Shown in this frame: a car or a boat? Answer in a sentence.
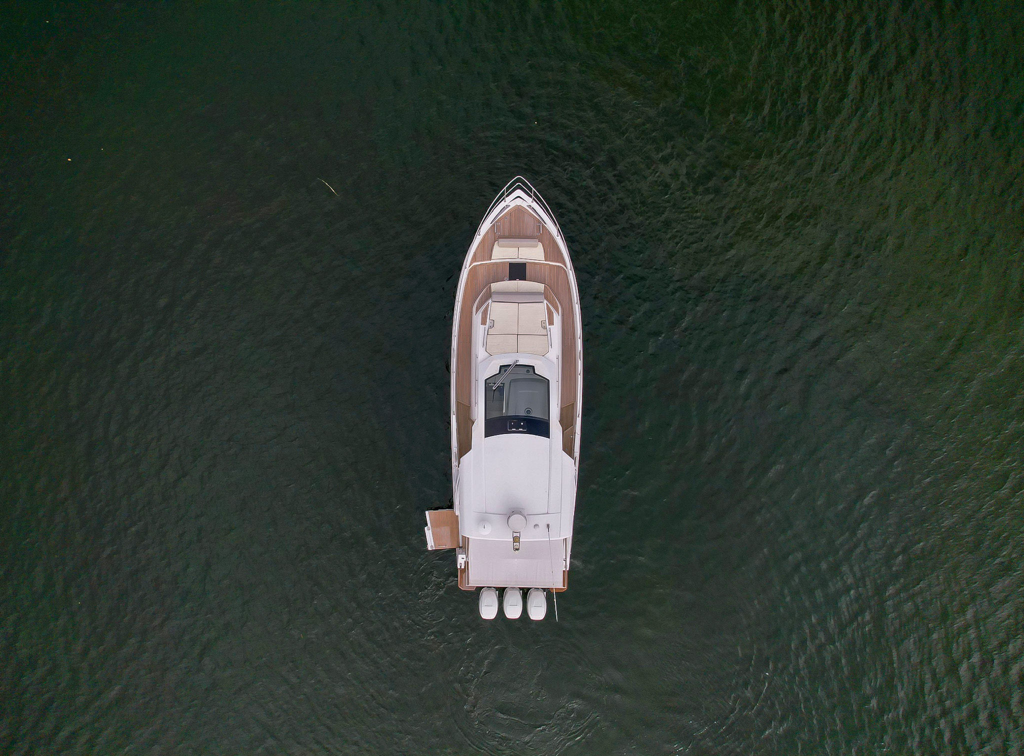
It is a boat that can be seen here.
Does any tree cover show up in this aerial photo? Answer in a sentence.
No, there is no tree cover in the image.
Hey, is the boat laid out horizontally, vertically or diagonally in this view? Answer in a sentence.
In this picture, the boat is oriented vertically.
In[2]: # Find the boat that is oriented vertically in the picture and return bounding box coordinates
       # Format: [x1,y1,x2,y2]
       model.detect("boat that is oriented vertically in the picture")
[425,175,583,621]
